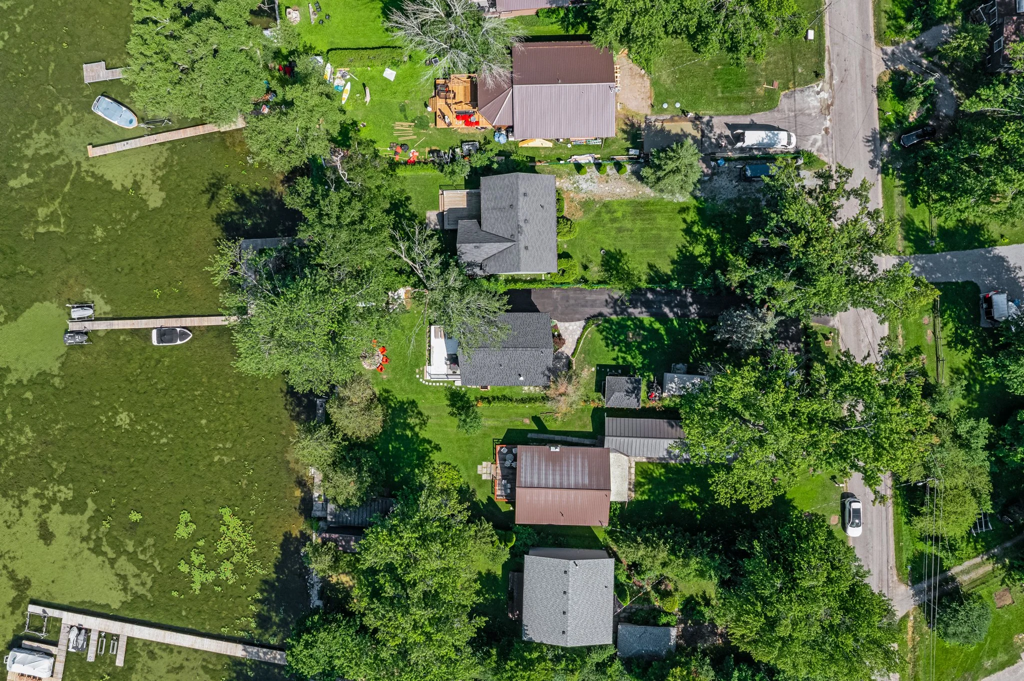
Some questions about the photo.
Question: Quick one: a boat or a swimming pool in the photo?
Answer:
boat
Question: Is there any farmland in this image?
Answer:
No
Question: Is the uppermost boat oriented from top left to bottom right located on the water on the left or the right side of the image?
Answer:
left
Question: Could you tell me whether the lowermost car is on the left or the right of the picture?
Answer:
right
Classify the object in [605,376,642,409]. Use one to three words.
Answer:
shed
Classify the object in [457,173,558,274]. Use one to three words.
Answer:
house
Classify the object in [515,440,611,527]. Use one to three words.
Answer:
house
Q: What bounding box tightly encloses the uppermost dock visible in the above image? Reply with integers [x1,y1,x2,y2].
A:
[83,61,146,83]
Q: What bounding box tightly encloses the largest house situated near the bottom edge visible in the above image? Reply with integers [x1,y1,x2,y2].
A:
[521,549,615,647]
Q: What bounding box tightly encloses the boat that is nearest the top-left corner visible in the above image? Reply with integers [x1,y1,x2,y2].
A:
[87,90,136,127]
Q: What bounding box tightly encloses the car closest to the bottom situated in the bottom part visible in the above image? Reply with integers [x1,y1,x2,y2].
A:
[840,496,865,537]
